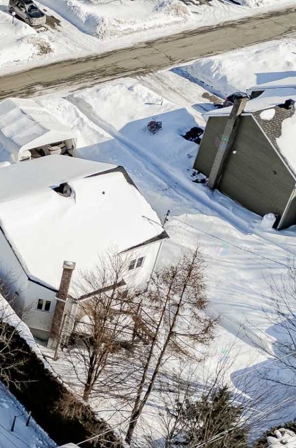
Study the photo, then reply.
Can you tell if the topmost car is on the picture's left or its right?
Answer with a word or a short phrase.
left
